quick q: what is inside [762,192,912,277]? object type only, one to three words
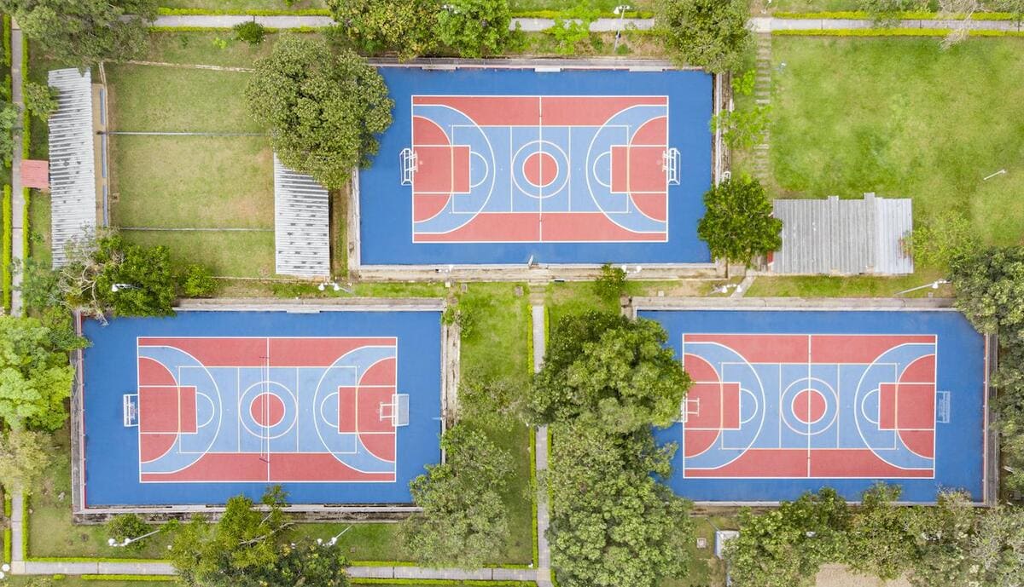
shed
